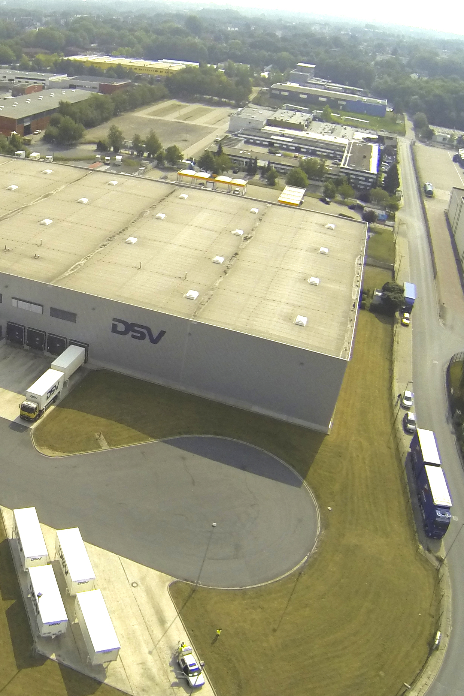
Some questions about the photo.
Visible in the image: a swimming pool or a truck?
truck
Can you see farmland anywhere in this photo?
No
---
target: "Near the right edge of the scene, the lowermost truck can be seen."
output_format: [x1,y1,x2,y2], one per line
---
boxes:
[418,433,460,540]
